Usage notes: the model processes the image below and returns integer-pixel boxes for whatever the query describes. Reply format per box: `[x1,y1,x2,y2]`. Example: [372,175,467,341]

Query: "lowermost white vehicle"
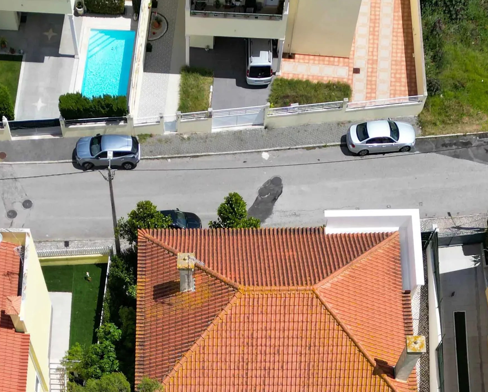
[345,122,417,157]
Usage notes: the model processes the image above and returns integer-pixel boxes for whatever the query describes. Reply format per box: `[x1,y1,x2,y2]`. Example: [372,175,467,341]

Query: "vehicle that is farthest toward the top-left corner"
[73,135,141,171]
